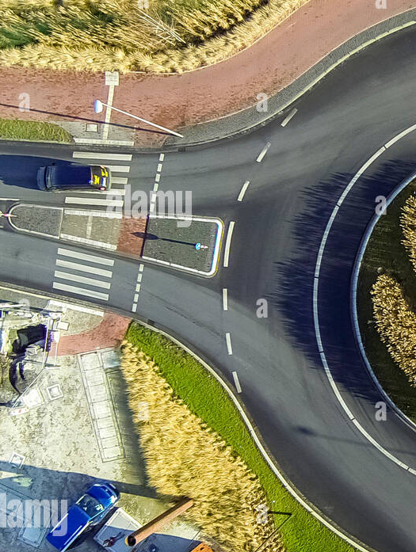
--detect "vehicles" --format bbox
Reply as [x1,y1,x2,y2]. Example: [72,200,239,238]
[49,481,124,549]
[39,160,113,194]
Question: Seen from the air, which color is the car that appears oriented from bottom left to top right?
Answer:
blue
